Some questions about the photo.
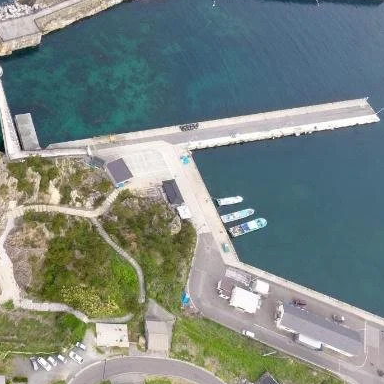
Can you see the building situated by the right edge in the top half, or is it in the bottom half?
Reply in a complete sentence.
Seen from above, the building situated by the right edge lies in the bottom half of the view.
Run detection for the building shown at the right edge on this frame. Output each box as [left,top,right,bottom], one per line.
[274,304,365,358]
